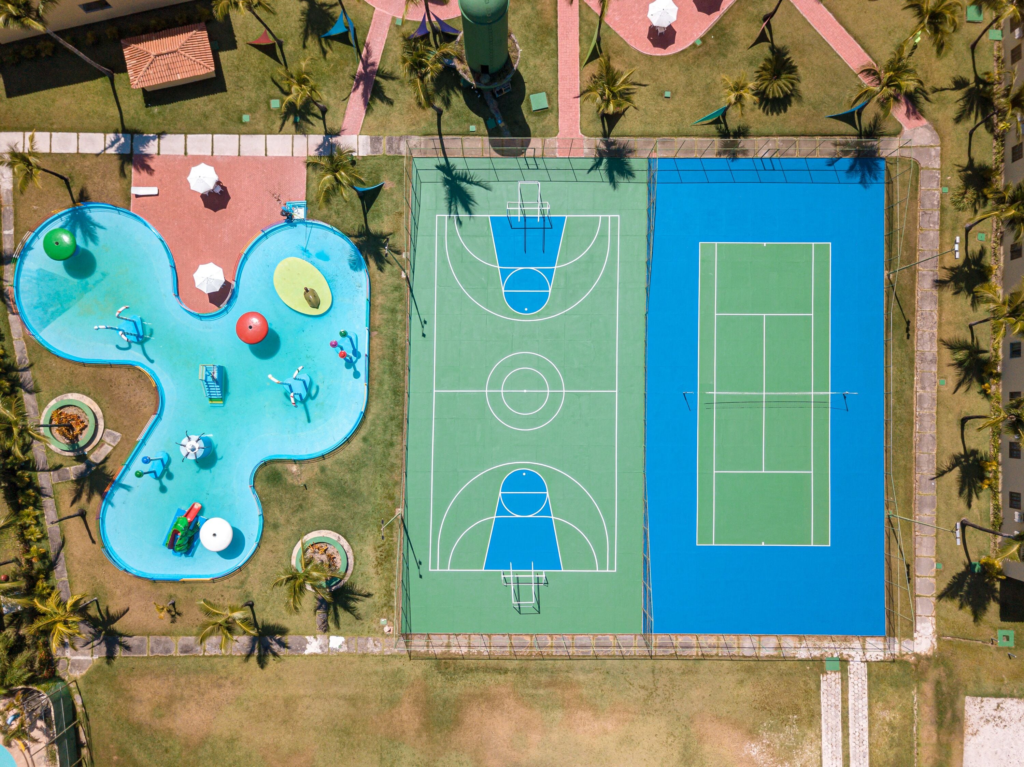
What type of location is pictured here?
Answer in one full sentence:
It's a sports ground.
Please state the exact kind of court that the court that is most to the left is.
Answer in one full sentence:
The court that is most to the left can be classified as a basketball court.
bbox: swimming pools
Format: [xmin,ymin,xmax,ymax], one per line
[14,202,371,581]
[0,747,16,767]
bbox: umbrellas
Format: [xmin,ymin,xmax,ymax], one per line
[646,0,677,31]
[195,263,228,295]
[188,164,219,195]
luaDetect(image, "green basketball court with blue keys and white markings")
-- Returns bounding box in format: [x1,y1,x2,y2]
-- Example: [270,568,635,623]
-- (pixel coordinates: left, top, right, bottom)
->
[398,155,647,634]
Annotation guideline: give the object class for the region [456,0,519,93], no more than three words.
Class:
water tower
